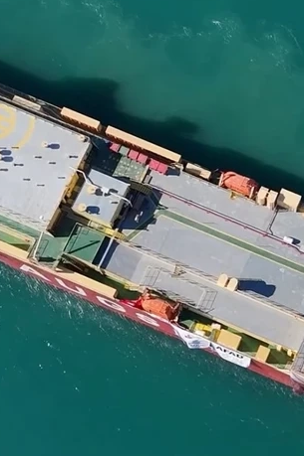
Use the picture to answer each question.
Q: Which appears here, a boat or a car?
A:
boat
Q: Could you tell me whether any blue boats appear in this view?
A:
No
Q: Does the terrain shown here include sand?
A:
No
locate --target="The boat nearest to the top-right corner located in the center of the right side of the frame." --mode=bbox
[219,172,260,195]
